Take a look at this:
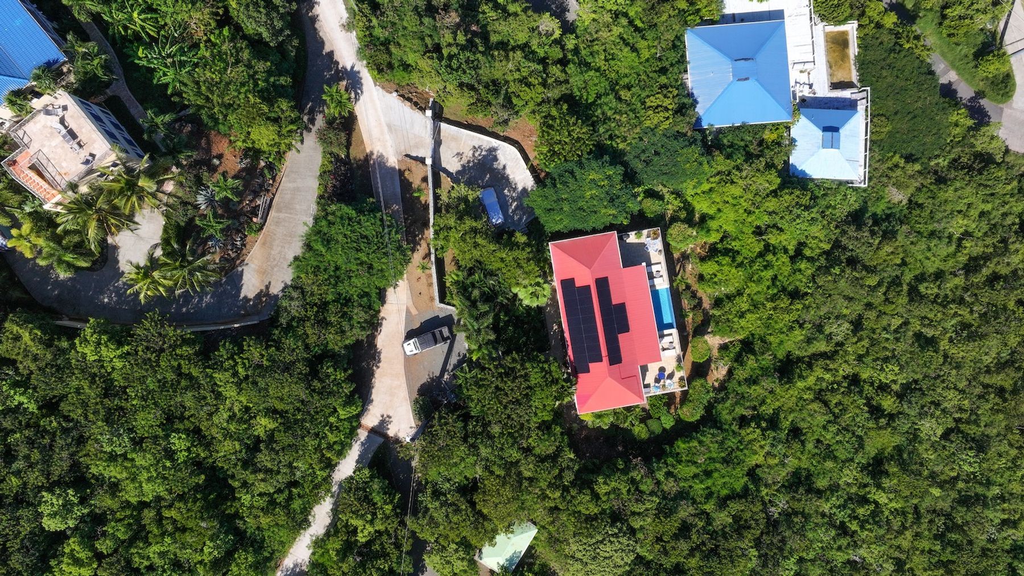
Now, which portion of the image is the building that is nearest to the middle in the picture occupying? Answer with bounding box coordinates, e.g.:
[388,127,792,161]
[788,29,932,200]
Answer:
[549,231,662,415]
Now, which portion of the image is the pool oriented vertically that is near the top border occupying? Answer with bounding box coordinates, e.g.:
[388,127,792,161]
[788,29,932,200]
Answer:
[825,22,859,91]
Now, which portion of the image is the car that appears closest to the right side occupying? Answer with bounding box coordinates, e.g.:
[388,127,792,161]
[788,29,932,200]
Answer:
[480,186,505,227]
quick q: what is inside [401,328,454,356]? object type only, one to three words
truck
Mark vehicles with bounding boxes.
[401,328,454,356]
[480,186,505,227]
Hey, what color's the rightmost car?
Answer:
blue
